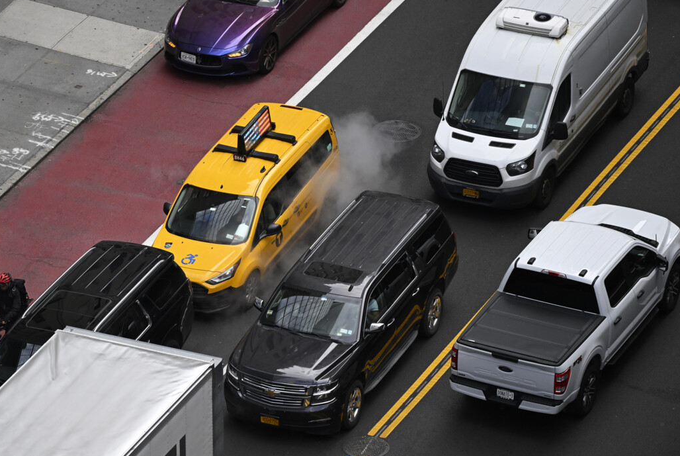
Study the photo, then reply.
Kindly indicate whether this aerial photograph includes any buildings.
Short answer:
No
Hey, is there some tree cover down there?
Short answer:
No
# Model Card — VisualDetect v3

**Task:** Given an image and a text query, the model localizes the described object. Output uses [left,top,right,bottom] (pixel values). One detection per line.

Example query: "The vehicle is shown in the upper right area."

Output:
[424,0,648,216]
